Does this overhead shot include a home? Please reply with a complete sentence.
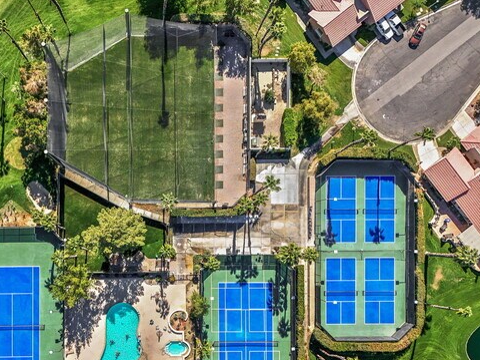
Yes, this view includes a home.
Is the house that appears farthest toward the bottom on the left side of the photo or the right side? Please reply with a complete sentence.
The house that appears farthest toward the bottom sits on the right side.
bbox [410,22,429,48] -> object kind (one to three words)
car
